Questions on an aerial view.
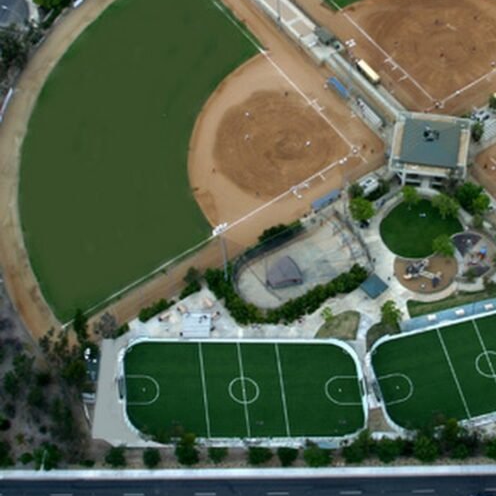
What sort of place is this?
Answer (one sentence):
It's a sports ground.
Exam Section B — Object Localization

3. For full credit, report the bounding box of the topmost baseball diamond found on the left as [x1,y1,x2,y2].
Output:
[20,0,368,330]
